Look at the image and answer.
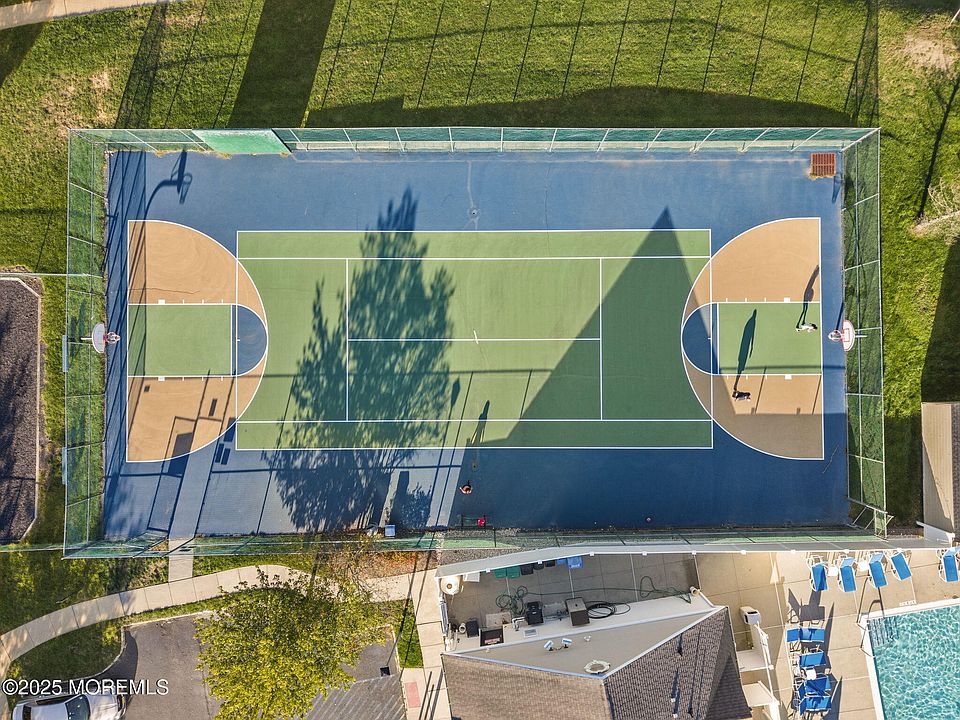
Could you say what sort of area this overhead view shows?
sports ground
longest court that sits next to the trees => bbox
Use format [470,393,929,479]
[104,152,848,541]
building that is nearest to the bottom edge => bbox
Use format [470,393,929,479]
[439,588,756,720]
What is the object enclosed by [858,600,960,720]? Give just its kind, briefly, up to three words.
swimming pool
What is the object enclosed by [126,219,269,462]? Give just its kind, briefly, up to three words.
basketball court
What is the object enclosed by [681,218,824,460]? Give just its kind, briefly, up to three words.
basketball court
